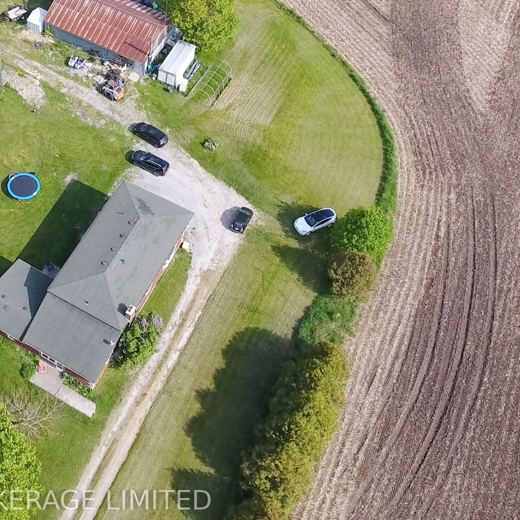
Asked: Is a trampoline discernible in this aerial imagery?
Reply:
Yes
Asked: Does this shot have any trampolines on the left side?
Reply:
Yes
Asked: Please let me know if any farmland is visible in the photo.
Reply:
Yes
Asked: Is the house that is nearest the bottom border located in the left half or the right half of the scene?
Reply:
left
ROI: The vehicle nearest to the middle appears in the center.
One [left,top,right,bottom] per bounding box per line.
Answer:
[233,202,257,233]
